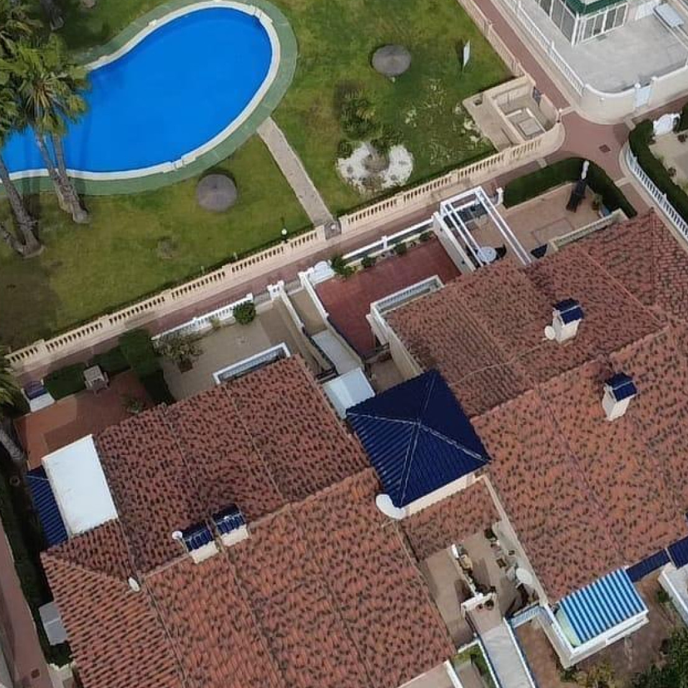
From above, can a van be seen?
No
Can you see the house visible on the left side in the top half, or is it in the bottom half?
bottom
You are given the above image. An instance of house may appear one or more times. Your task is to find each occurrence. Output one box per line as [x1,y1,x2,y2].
[535,0,675,44]
[366,202,688,667]
[20,339,465,688]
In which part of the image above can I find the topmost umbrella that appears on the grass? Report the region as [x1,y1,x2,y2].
[373,49,409,84]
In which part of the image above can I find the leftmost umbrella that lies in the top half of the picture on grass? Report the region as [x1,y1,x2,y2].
[197,177,237,213]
